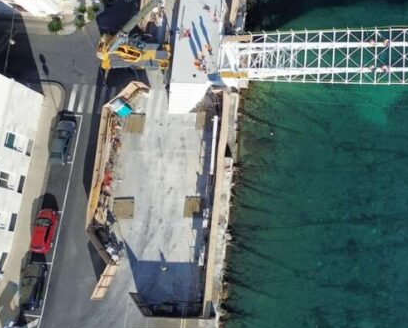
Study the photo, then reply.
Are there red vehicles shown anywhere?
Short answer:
Yes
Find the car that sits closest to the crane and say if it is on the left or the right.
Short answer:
left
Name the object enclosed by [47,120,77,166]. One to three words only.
car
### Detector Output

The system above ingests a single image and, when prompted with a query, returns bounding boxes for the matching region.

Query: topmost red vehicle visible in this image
[29,209,61,254]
